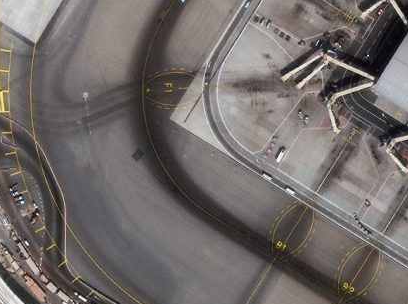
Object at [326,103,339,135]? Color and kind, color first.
white jet bridge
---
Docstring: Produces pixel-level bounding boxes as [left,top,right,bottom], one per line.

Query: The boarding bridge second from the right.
[359,0,388,20]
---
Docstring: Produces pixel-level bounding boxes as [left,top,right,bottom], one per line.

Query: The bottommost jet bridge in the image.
[386,150,408,175]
